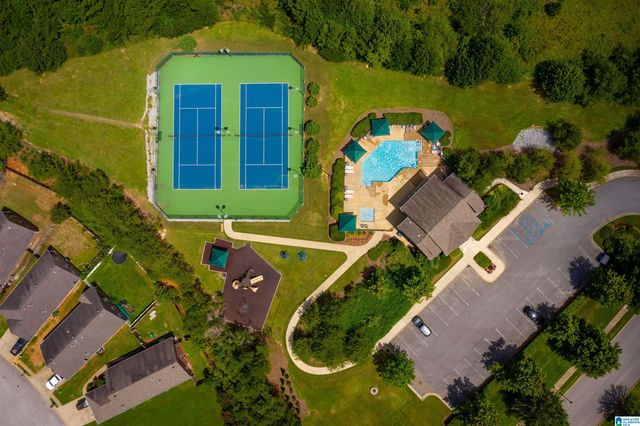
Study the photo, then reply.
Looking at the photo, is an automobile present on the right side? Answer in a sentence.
Yes, you'll find an automobile on the right side.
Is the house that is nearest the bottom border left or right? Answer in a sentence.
The house that is nearest the bottom border sits on the left side.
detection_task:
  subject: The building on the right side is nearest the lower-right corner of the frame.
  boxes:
[397,171,486,260]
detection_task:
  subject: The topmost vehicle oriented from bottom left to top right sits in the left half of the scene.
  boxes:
[8,341,29,356]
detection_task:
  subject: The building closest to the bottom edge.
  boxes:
[84,334,194,422]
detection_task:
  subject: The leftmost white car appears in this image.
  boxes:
[43,375,62,391]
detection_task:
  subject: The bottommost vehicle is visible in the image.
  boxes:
[71,397,88,411]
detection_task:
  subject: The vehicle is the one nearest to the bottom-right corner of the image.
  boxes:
[521,305,541,325]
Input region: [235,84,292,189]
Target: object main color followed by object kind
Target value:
blue tennis court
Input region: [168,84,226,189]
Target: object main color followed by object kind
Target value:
blue tennis court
